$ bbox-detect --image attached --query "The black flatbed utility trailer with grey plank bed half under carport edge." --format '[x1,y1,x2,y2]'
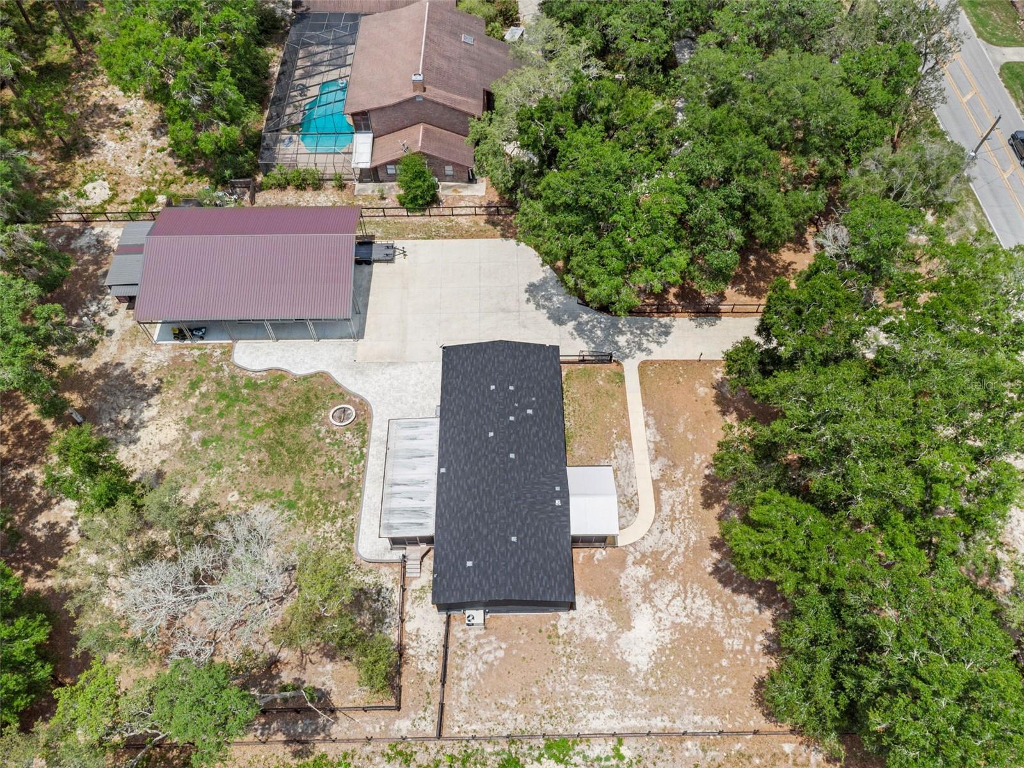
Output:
[356,240,408,266]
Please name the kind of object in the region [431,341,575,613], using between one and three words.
house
